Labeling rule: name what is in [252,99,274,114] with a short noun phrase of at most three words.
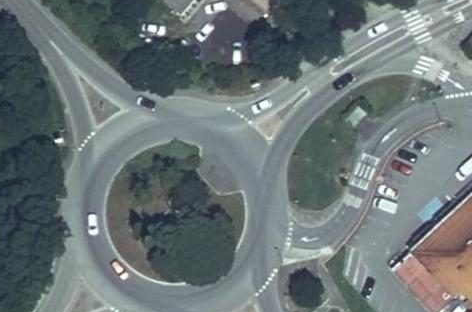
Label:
car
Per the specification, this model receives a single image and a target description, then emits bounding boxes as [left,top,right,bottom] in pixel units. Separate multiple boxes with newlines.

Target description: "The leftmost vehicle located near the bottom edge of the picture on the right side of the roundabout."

[360,276,376,299]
